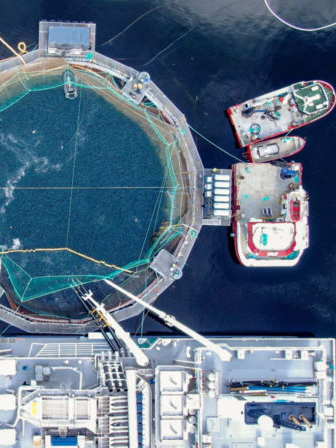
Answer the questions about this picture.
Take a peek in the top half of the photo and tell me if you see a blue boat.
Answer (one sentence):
No, there's no blue boat to be seen in the top half of the photo.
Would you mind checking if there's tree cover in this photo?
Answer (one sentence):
No, there's no tree cover in this view.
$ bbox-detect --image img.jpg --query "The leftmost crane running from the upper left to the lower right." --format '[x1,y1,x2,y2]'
[79,285,147,375]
